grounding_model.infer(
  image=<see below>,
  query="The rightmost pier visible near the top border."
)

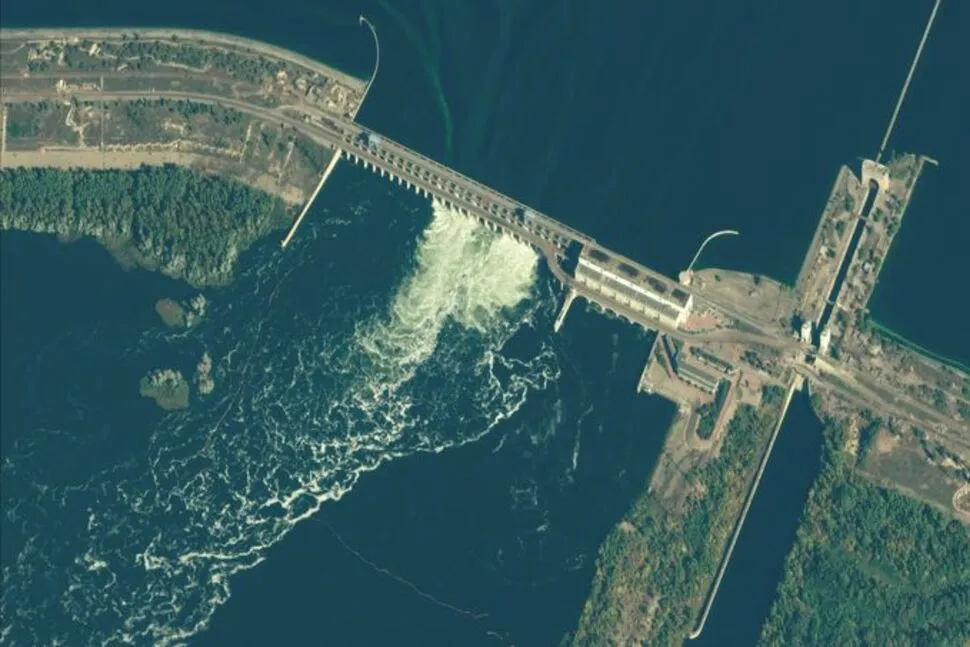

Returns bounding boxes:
[884,0,942,148]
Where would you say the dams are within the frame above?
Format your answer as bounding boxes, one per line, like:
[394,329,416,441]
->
[329,119,691,341]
